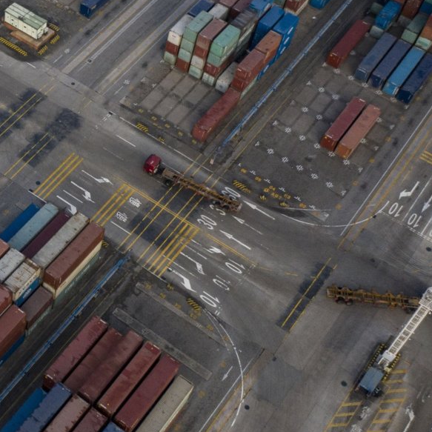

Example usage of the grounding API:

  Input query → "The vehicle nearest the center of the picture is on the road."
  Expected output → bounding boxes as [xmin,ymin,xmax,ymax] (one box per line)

[139,154,233,210]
